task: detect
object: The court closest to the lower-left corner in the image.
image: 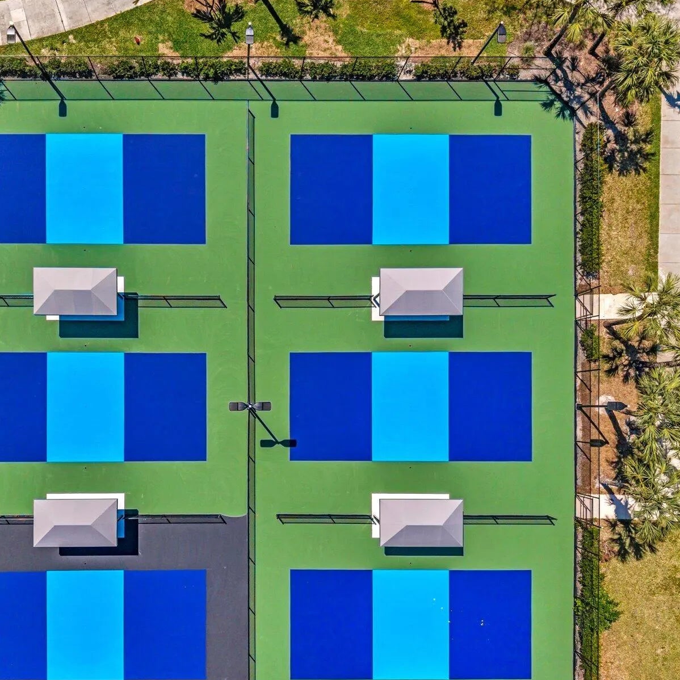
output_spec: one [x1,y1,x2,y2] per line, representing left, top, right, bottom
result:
[0,564,205,680]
